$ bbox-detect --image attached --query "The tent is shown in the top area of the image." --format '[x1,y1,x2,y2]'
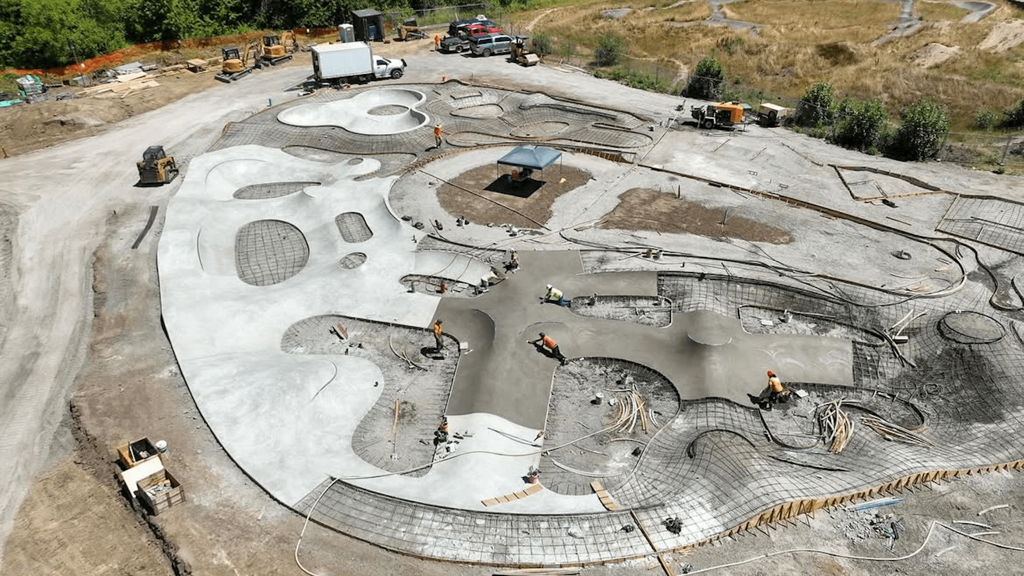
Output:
[502,136,566,183]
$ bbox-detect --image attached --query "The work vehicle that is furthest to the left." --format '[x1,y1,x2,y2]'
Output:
[134,143,177,188]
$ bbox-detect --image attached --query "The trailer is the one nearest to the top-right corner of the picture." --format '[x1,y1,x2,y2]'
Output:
[756,98,797,126]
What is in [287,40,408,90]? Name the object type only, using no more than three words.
truck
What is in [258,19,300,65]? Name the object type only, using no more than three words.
work vehicle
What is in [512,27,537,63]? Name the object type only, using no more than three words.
work vehicle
